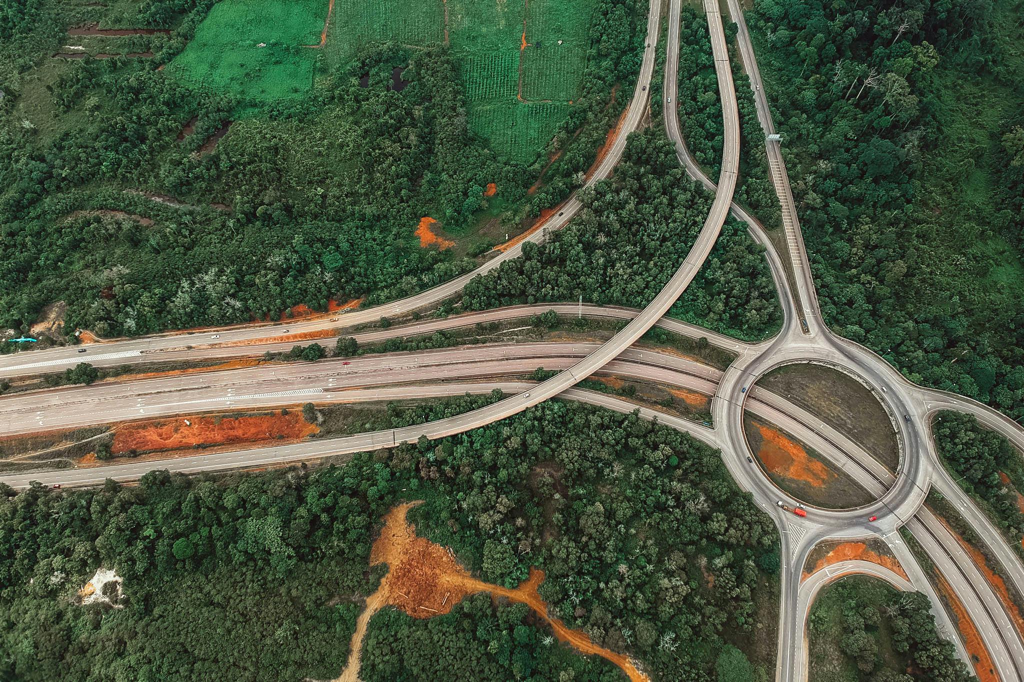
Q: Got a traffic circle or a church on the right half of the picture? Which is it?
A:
traffic circle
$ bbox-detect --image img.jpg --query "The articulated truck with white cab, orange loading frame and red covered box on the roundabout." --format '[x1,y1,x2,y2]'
[778,499,809,520]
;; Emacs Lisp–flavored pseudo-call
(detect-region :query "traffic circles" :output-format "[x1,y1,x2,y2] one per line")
[704,305,959,581]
